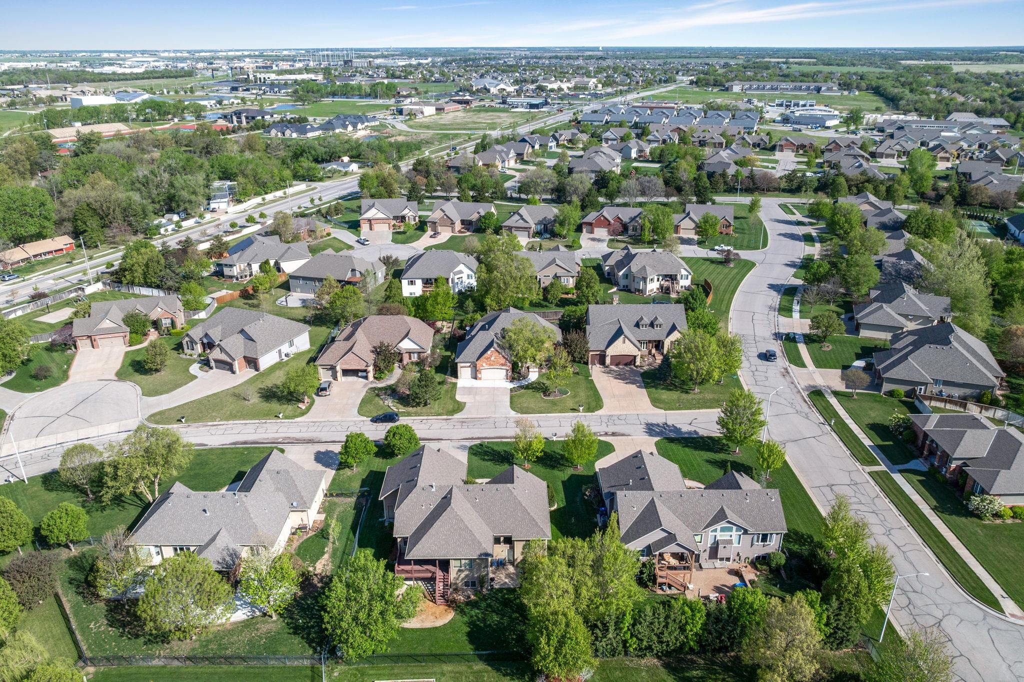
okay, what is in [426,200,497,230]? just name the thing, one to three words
house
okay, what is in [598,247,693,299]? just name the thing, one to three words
house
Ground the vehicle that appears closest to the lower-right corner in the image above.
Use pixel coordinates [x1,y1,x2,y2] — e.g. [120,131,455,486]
[763,349,781,361]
